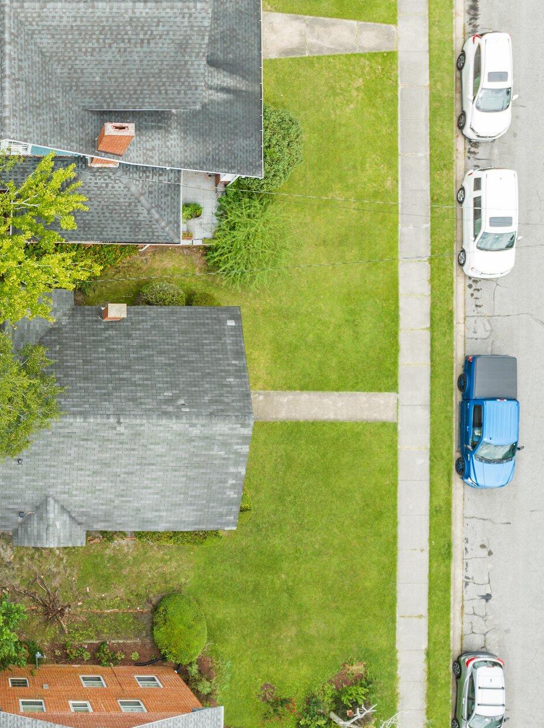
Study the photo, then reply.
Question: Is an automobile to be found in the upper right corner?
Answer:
Yes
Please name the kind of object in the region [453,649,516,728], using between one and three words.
car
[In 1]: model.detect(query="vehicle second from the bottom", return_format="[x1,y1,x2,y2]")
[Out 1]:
[457,356,525,491]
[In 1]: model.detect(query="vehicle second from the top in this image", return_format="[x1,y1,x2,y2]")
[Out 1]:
[458,168,524,282]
